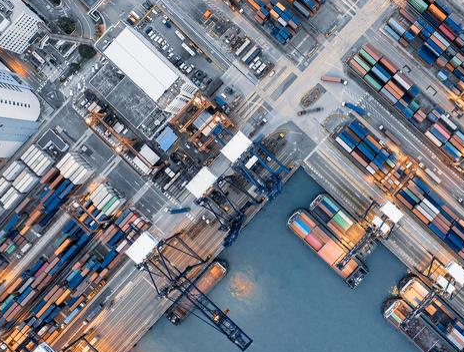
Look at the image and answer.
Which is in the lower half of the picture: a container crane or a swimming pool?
container crane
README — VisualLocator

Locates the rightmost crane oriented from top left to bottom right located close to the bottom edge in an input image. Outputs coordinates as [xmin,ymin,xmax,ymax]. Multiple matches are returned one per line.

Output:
[126,224,251,349]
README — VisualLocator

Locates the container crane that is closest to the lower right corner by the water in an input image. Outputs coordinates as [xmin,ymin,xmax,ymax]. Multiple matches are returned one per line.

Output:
[405,240,464,324]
